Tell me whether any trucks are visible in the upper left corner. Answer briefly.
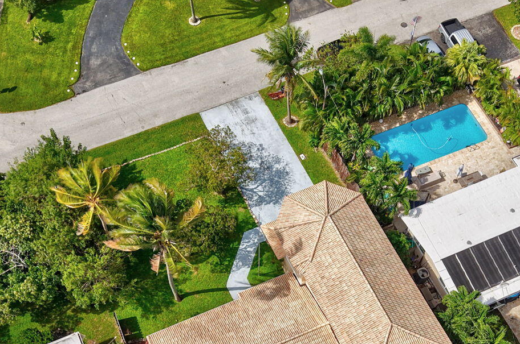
No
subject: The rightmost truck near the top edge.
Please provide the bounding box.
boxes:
[439,17,482,54]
